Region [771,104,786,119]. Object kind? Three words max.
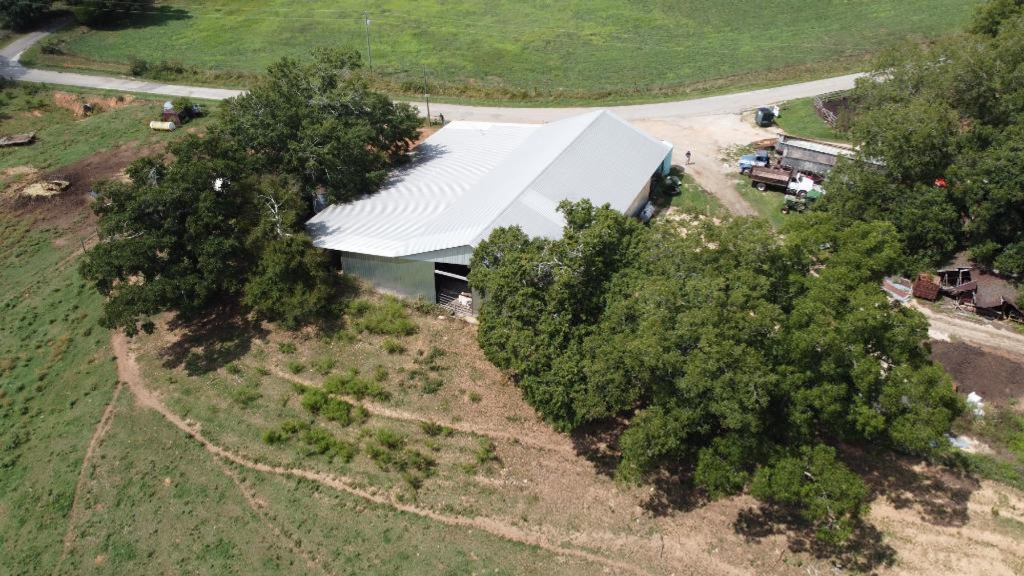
car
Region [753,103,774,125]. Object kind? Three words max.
vehicle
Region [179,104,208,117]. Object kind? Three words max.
vehicle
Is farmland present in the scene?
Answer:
Yes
